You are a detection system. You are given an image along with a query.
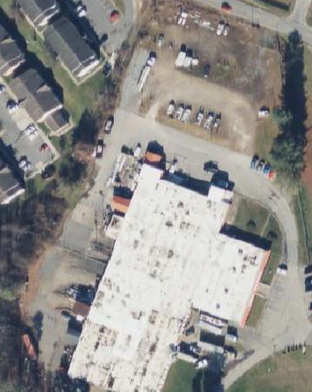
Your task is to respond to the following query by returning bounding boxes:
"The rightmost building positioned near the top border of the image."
[42,17,103,76]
